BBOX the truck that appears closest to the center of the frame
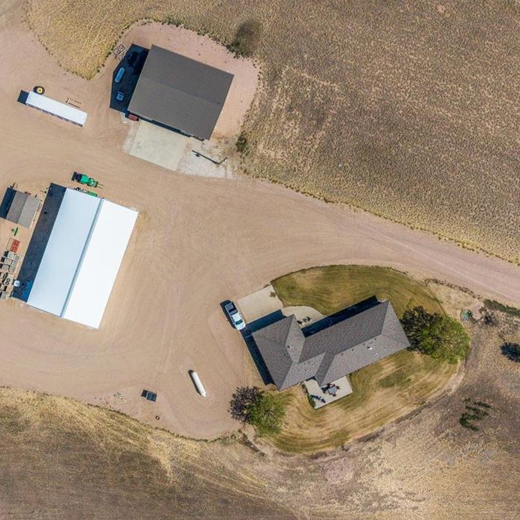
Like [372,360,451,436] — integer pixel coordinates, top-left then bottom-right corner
[223,299,245,330]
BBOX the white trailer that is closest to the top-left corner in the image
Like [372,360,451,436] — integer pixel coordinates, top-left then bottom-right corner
[26,92,87,127]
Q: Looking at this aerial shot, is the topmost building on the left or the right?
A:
left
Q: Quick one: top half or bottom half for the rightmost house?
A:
bottom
